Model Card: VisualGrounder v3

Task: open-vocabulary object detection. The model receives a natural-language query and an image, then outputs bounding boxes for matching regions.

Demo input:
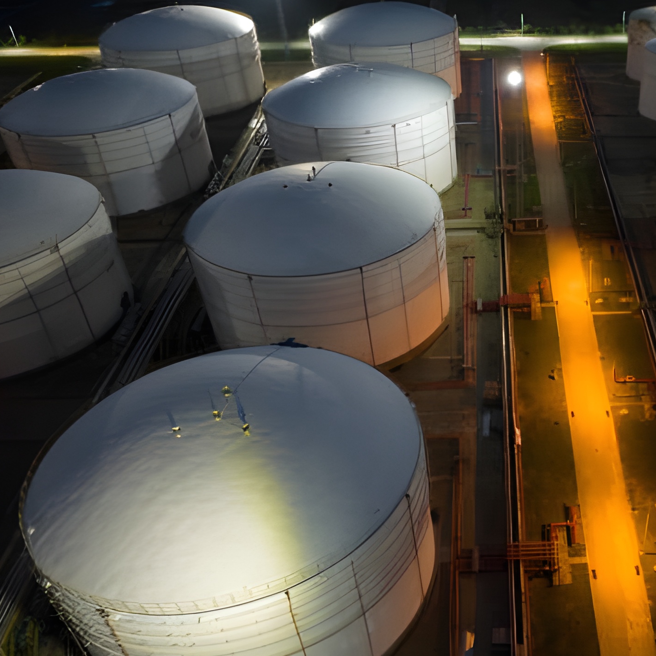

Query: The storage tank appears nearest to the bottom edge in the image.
[0,337,439,656]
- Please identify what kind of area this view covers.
industrial area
